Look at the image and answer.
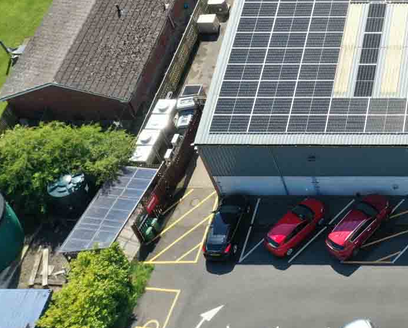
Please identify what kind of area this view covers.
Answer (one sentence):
The area seen from above is an industrial area.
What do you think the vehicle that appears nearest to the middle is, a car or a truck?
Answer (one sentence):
It looks like the vehicle that appears nearest to the middle is a car.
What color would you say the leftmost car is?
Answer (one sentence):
The leftmost car looks black in the image.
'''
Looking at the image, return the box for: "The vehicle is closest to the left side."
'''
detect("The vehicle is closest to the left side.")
[202,187,257,259]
